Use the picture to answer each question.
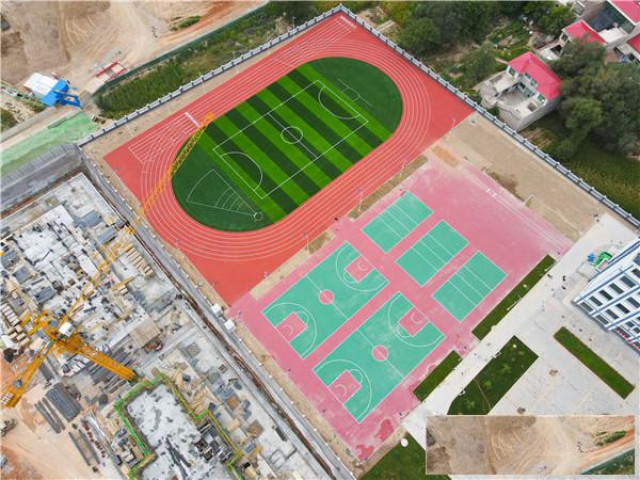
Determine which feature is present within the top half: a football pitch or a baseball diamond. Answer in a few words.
football pitch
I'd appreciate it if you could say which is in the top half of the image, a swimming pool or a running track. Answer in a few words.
running track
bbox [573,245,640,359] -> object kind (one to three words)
building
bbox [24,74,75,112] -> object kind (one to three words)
shed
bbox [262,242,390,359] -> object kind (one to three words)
basketball court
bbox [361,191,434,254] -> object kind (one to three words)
sports court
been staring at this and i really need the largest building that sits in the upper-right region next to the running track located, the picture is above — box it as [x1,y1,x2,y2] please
[477,48,574,128]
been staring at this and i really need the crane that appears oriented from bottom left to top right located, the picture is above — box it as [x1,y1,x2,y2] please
[0,112,217,408]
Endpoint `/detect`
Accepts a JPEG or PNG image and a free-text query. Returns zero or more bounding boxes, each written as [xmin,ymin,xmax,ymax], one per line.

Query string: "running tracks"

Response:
[103,11,474,303]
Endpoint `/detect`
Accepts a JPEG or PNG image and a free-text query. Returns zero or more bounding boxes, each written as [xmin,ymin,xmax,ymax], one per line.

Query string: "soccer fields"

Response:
[170,57,402,233]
